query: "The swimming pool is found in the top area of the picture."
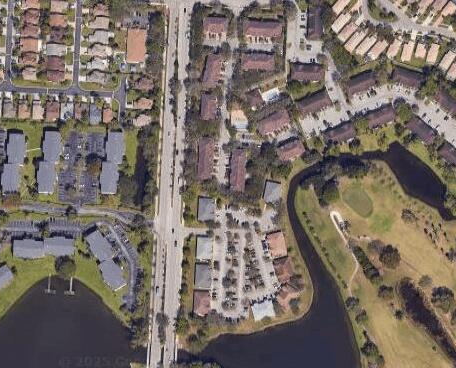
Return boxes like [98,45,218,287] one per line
[262,86,281,102]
